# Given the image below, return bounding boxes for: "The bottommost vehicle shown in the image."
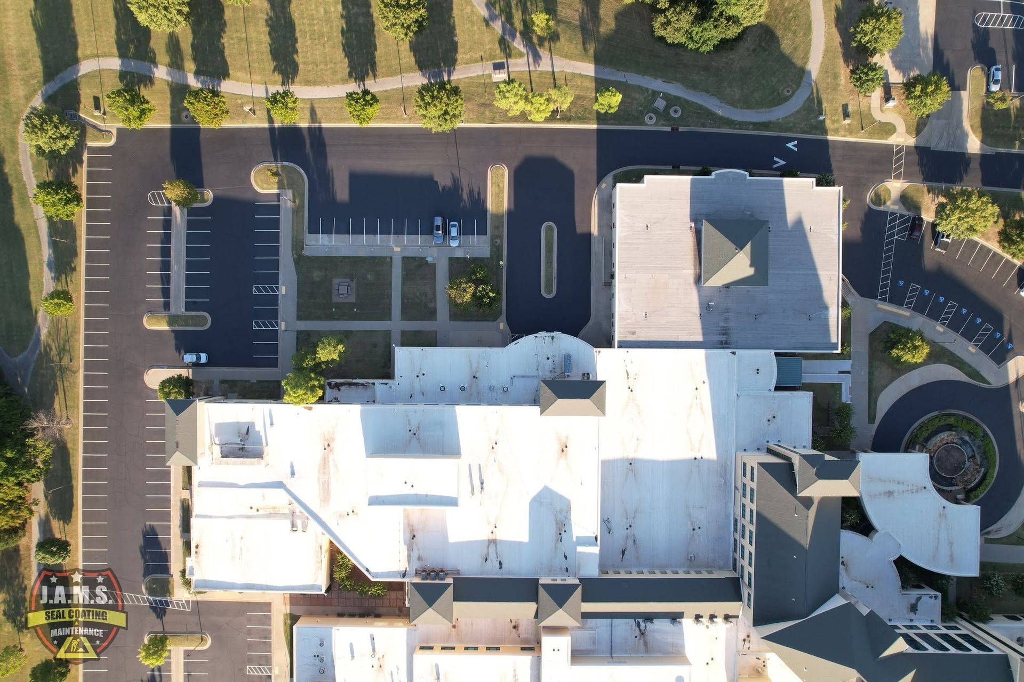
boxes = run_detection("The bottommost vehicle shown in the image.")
[182,352,209,364]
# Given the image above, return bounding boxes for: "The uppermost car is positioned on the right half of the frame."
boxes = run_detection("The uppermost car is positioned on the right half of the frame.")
[986,65,1000,92]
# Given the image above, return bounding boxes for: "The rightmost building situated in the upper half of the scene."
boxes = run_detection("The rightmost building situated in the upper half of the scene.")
[611,169,842,353]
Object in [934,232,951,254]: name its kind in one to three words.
vehicle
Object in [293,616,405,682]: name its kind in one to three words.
building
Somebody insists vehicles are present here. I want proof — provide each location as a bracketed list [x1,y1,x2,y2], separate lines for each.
[934,232,951,254]
[433,218,443,243]
[449,221,460,246]
[986,65,1000,92]
[182,352,209,364]
[908,215,924,240]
